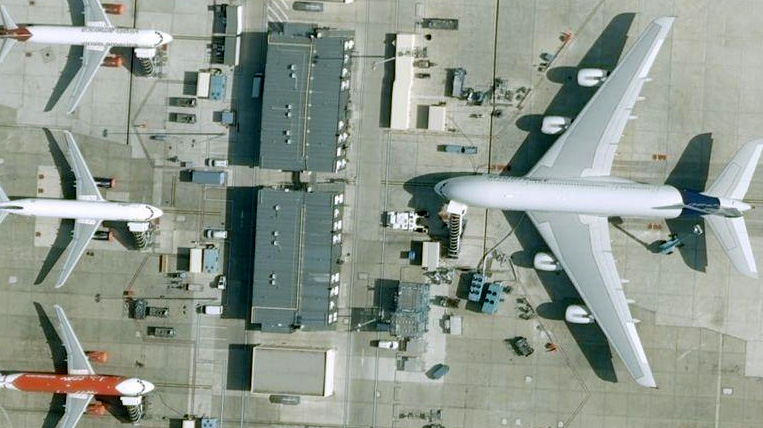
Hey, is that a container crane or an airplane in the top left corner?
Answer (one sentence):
What appears in the top left corner is an airplane.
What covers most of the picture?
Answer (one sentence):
The largest share of the image is taken up by paved ground.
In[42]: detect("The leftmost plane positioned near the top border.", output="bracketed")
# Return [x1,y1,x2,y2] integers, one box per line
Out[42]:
[0,0,172,117]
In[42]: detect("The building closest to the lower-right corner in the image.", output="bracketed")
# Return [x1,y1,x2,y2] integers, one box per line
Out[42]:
[421,240,443,268]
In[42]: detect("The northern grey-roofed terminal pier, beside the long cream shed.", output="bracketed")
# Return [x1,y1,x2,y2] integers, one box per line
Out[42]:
[259,19,364,170]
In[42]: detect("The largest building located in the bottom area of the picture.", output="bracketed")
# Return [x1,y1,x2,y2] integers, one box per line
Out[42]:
[251,186,355,333]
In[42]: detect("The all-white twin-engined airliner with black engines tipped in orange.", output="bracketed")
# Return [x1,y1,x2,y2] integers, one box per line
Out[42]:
[0,130,162,291]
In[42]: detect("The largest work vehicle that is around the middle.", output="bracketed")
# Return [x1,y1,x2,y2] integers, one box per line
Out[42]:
[390,210,431,233]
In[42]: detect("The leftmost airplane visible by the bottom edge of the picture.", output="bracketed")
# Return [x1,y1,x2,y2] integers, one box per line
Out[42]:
[0,304,154,428]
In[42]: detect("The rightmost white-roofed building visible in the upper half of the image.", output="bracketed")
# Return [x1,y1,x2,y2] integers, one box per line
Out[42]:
[428,105,449,131]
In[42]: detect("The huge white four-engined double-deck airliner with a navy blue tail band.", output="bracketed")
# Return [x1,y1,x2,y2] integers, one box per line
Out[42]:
[434,16,763,388]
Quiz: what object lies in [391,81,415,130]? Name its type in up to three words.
shed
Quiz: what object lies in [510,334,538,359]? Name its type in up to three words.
work vehicle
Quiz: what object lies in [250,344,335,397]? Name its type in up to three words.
building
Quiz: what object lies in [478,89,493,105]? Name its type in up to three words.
work vehicle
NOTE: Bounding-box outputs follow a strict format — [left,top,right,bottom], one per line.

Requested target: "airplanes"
[0,0,172,117]
[0,304,154,428]
[434,16,763,388]
[0,130,162,291]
